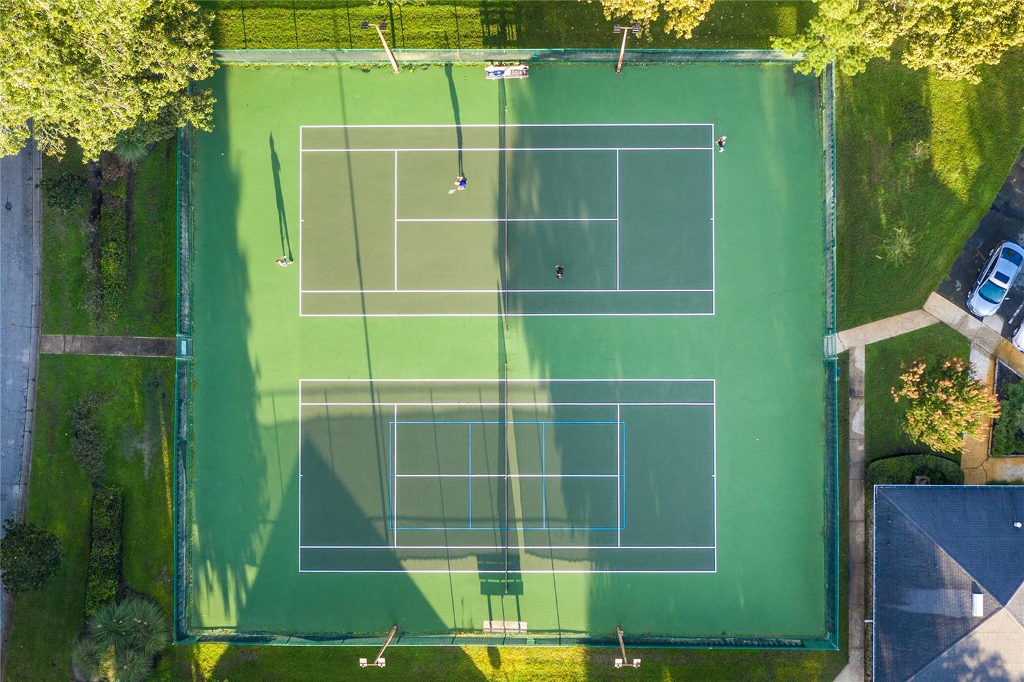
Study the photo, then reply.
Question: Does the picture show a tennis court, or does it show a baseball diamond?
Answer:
tennis court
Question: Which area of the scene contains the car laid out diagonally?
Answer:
right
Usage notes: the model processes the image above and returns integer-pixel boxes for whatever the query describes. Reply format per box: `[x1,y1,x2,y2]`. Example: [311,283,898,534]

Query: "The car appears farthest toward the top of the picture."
[964,237,1024,317]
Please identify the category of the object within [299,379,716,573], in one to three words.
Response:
tennis court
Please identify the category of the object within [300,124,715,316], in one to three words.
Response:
tennis court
